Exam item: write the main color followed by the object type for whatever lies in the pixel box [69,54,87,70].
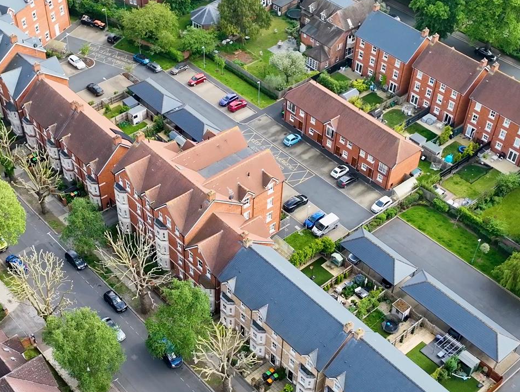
white car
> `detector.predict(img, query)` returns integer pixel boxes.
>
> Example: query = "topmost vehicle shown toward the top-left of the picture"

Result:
[105,33,126,46]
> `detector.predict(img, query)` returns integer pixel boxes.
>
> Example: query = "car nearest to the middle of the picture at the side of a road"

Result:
[282,194,310,213]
